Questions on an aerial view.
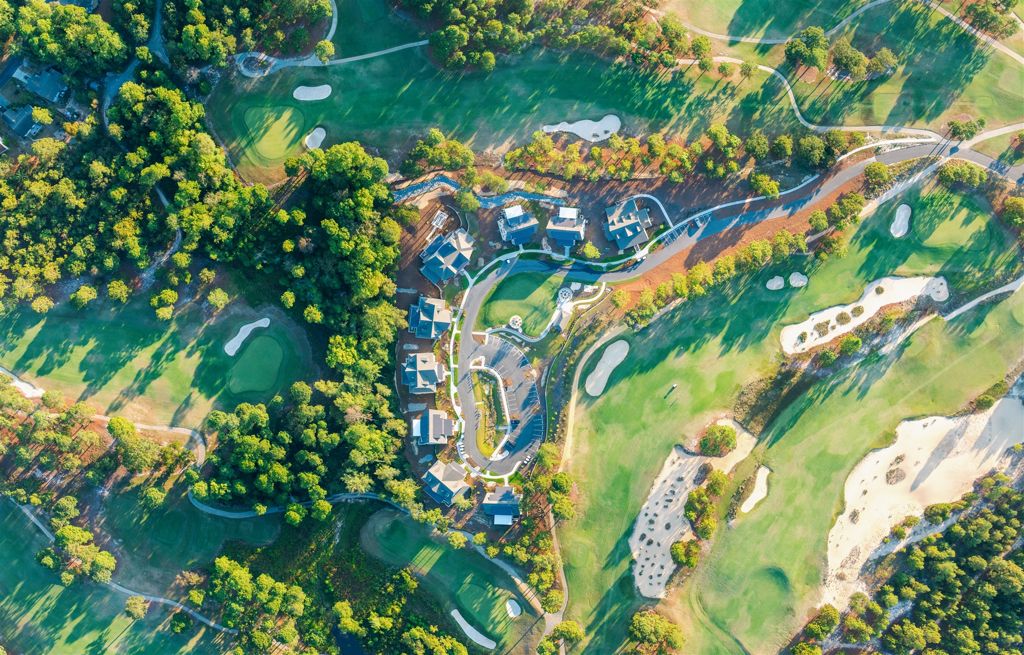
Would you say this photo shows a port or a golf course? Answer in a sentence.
It's a golf course.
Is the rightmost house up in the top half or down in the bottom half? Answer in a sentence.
The rightmost house is in the top half of the image.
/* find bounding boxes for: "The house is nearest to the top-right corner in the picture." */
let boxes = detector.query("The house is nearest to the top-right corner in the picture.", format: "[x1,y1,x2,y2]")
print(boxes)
[600,194,655,250]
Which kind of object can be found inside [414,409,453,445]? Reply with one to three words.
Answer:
house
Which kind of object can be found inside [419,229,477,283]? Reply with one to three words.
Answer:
house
